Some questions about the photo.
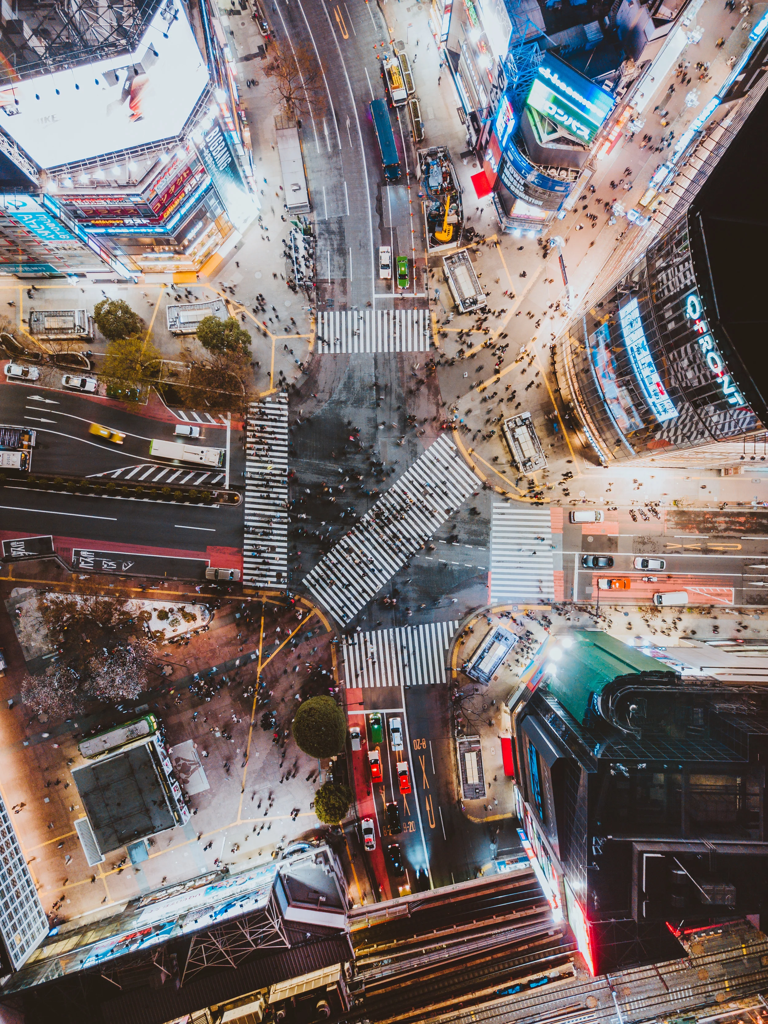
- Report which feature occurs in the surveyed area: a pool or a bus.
bus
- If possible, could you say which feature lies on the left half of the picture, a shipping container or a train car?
train car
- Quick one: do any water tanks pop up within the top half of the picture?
No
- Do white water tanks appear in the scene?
No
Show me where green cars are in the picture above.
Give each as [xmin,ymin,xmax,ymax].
[396,257,410,290]
[370,711,383,743]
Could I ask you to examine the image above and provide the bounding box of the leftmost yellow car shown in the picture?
[91,424,125,443]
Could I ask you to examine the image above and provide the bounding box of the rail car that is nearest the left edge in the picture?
[79,711,162,757]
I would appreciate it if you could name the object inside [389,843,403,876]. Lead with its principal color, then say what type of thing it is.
black car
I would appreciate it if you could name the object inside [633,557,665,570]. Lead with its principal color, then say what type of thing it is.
white vehicle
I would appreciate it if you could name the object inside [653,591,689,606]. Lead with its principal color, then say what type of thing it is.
white vehicle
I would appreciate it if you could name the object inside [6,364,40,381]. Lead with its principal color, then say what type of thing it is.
white car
